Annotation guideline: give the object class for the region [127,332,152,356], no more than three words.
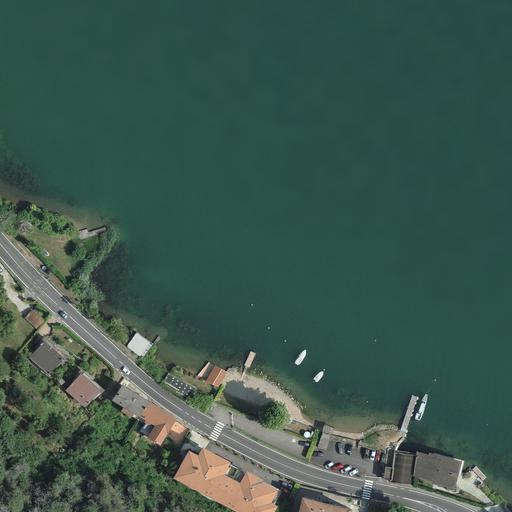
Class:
building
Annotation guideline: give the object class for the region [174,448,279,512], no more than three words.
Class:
building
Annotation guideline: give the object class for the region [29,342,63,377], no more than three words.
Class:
house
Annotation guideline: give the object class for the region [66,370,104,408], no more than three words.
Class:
house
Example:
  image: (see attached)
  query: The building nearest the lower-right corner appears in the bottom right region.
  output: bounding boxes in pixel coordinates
[414,452,465,492]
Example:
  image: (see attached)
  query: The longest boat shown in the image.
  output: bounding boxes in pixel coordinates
[414,394,427,421]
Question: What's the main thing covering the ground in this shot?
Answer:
water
